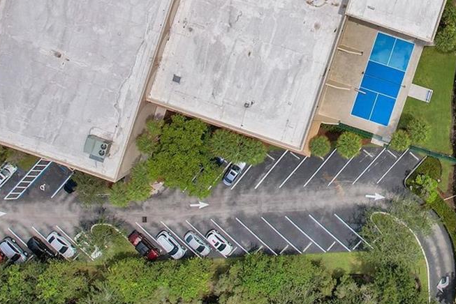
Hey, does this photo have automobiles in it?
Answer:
Yes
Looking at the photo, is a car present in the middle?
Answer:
Yes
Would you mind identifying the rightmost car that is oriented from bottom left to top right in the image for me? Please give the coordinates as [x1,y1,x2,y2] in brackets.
[220,158,248,187]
